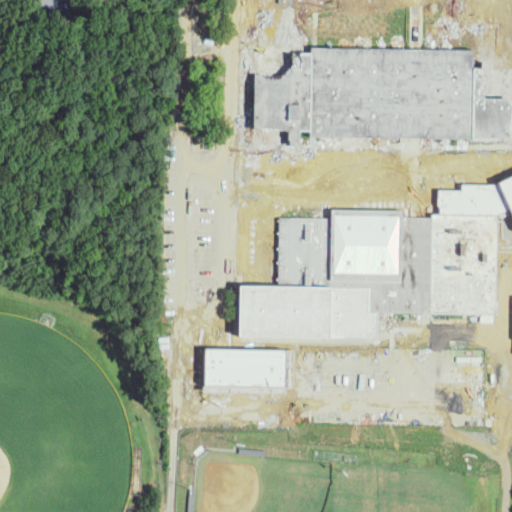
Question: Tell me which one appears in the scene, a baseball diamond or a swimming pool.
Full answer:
Visible in the photo is a baseball diamond.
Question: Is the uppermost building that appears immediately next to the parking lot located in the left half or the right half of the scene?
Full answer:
The uppermost building that appears immediately next to the parking lot appears in the right half of the scene.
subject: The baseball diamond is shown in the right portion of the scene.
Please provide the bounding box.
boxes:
[195,453,500,512]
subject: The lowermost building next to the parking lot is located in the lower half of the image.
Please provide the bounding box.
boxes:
[203,348,288,394]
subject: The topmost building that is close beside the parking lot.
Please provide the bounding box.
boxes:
[254,49,512,148]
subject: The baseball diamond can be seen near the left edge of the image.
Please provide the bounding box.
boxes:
[0,314,131,512]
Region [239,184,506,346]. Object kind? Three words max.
building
